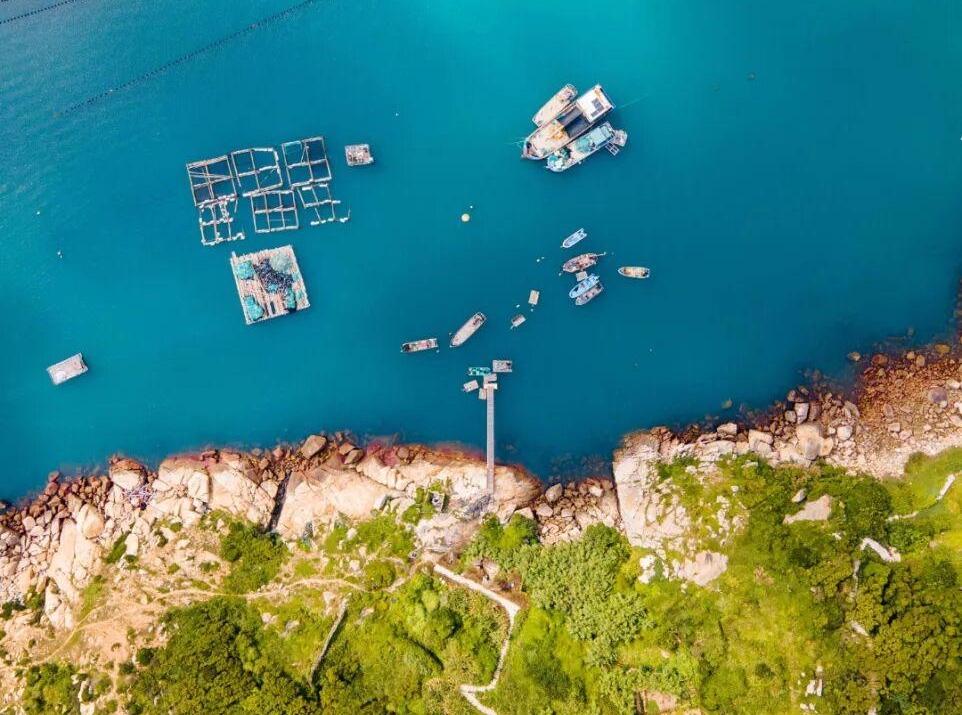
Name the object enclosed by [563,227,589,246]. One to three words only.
boat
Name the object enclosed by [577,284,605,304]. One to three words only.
boat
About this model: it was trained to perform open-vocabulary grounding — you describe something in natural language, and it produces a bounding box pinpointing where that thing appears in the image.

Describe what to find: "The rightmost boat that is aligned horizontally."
[618,266,652,278]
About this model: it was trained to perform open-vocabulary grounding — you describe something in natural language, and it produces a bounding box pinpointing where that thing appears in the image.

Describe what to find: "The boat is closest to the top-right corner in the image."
[615,128,629,148]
